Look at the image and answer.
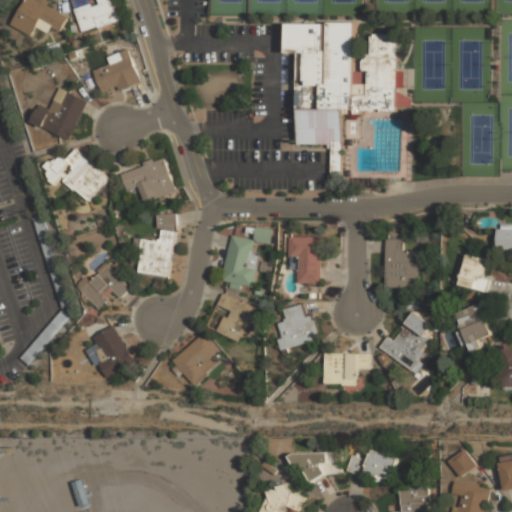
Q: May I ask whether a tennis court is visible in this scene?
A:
Yes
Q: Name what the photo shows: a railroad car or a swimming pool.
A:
swimming pool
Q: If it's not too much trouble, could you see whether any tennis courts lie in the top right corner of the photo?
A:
Yes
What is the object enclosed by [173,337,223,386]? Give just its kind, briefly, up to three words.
house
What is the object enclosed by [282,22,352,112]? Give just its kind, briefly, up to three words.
building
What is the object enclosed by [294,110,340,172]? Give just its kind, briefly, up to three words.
building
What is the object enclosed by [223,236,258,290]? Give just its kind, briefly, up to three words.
house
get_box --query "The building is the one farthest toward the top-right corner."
[346,33,411,119]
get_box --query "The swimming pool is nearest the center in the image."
[284,272,298,294]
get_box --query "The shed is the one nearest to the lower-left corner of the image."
[70,480,90,506]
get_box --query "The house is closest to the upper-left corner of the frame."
[9,0,69,36]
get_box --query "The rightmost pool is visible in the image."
[478,216,502,230]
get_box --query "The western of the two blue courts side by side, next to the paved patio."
[415,27,452,102]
